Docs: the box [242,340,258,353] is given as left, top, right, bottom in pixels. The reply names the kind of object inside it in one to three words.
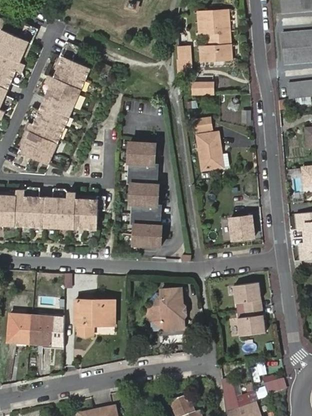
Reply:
swimming pool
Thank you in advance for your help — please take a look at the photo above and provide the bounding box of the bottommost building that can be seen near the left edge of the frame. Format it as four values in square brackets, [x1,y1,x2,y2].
[6,312,65,348]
